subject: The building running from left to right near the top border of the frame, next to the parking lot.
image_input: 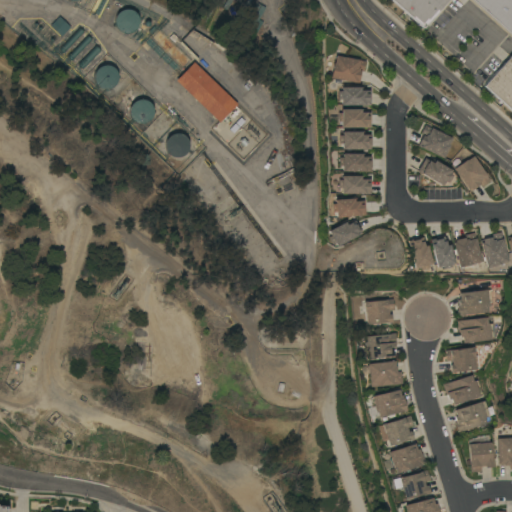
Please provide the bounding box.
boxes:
[392,0,453,28]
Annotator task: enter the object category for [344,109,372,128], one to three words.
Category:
house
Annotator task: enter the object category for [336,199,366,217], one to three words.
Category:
house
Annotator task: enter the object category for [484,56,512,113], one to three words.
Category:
building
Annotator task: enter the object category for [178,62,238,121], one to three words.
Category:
building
